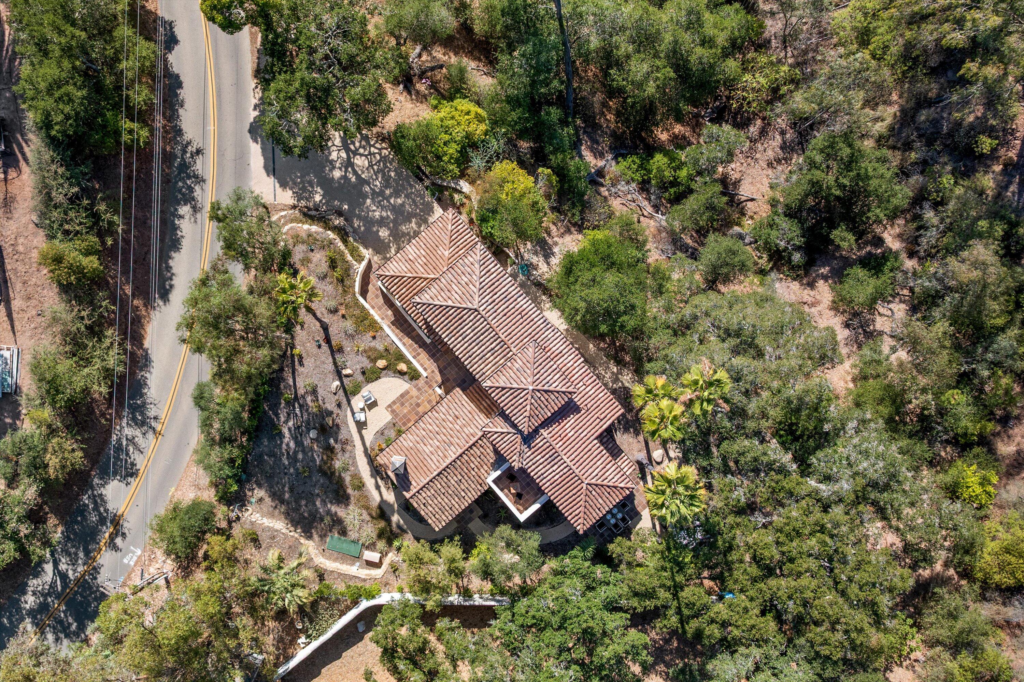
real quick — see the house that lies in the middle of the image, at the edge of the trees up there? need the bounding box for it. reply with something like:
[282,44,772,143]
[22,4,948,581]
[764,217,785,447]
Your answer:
[374,207,637,535]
